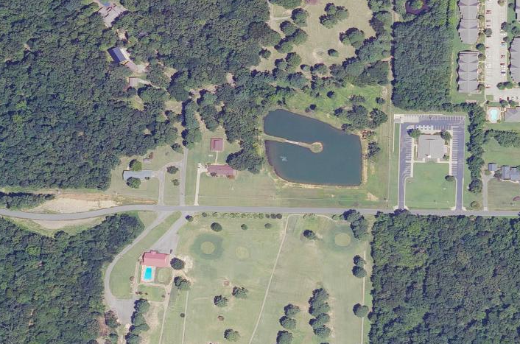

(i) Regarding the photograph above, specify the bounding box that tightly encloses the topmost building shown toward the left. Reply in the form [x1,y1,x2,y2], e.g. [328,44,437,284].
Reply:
[99,2,127,29]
